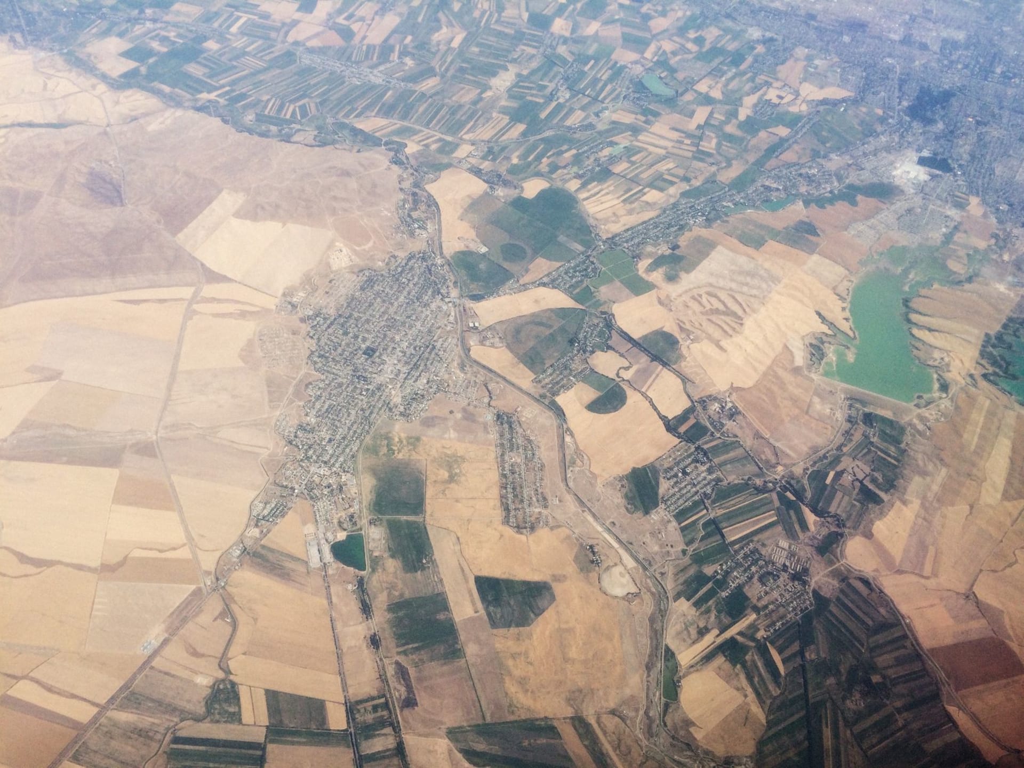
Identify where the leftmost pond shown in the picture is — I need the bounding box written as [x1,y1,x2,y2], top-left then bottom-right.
[822,268,936,403]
